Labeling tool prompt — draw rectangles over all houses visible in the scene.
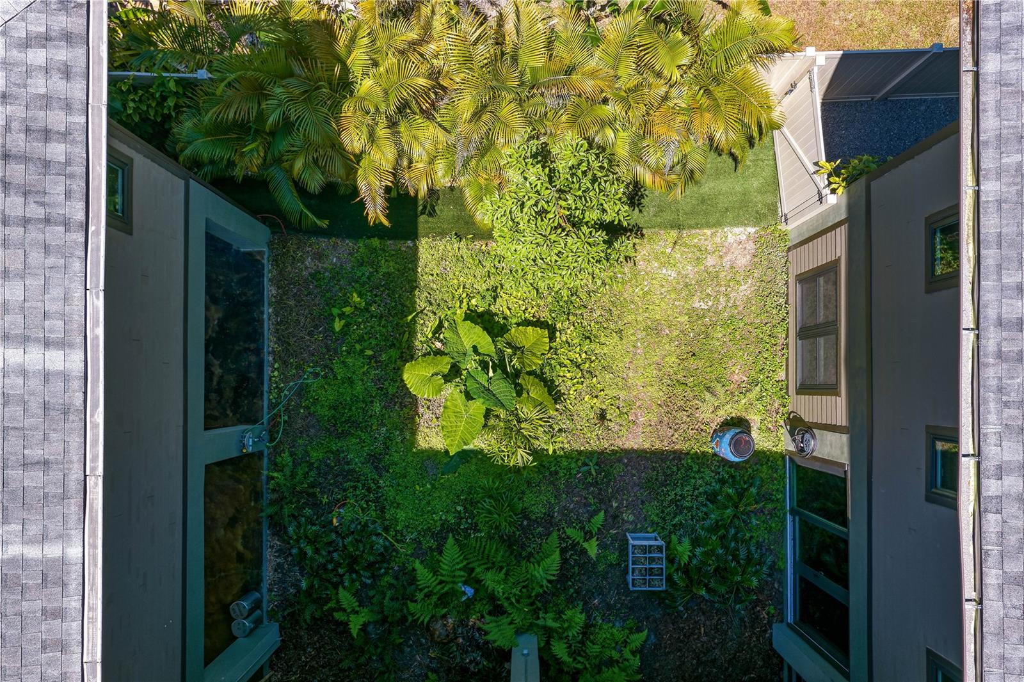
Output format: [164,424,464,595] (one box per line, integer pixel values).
[0,0,279,682]
[776,0,1024,682]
